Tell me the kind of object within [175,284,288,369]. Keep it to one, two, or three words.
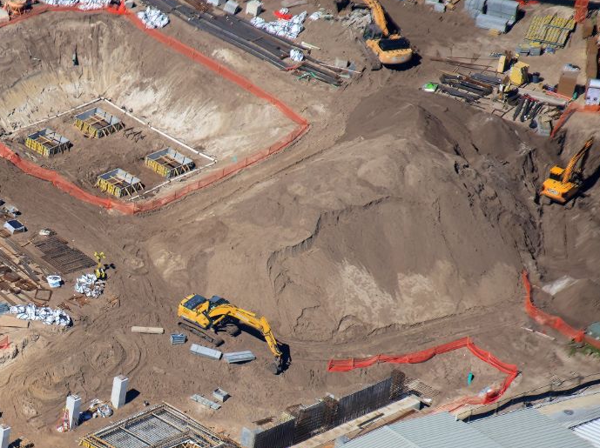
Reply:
work vehicle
